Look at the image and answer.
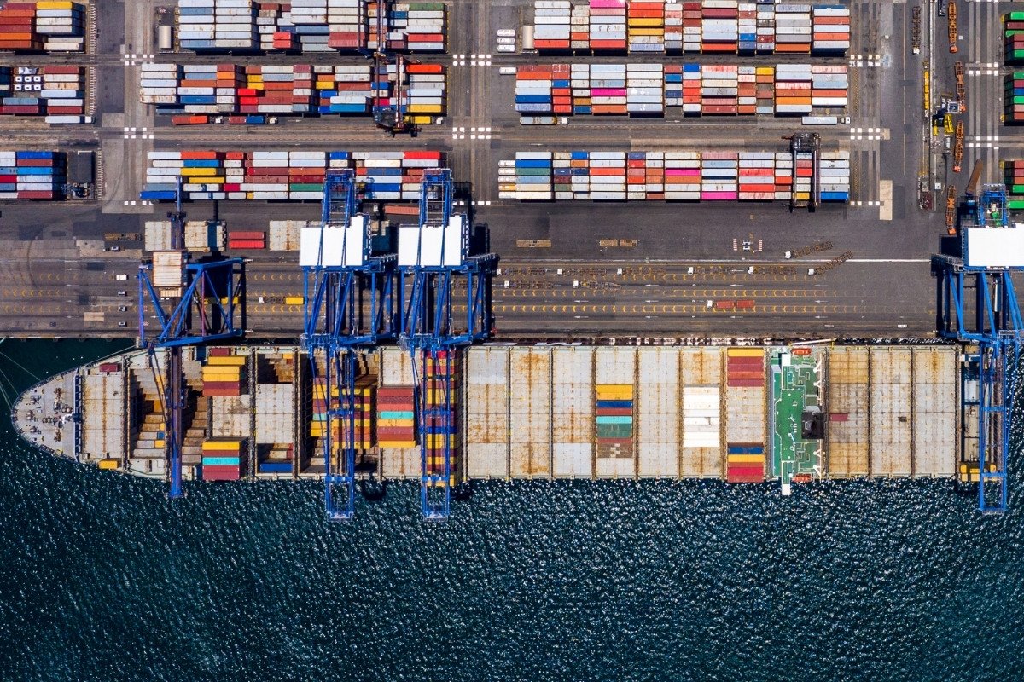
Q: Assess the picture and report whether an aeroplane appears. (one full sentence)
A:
No, no aeroplane is visible in the scene.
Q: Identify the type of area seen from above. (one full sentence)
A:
The area seen from above is a port.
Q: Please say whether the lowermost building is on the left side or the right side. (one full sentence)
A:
It is on the left.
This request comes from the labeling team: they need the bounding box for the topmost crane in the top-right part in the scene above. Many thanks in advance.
[787,132,820,215]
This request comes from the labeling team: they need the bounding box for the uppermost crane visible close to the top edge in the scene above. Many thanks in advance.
[357,0,398,65]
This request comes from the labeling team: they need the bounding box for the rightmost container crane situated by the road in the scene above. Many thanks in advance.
[930,183,1024,516]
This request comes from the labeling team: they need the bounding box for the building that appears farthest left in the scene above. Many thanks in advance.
[65,152,100,202]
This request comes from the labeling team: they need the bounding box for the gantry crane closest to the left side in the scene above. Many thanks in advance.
[127,170,257,500]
